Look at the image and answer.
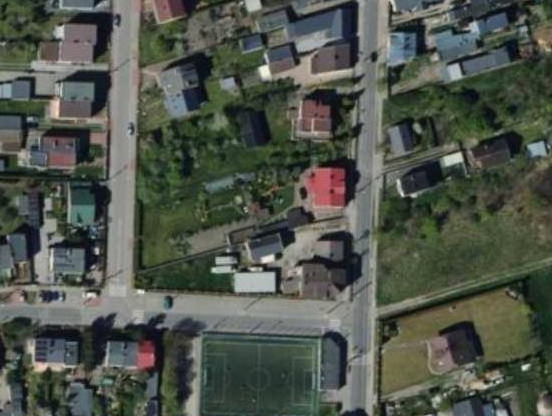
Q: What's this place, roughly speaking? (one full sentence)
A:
What you see here is a residential area.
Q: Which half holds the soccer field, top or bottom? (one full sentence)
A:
You can find the soccer field in the bottom half.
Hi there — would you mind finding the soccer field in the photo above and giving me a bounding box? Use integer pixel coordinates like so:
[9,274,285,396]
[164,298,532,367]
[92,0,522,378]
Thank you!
[199,333,320,416]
